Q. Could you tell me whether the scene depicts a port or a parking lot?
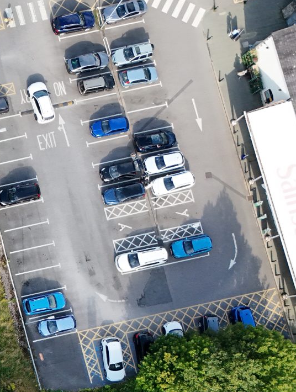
parking lot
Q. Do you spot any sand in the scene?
No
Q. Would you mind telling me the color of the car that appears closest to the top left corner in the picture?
blue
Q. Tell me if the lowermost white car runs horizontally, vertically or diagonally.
vertically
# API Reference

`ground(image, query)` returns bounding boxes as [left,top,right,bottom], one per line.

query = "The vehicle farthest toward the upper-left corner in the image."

[51,8,98,36]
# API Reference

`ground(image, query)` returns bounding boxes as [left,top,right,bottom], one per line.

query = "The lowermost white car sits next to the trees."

[100,337,126,382]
